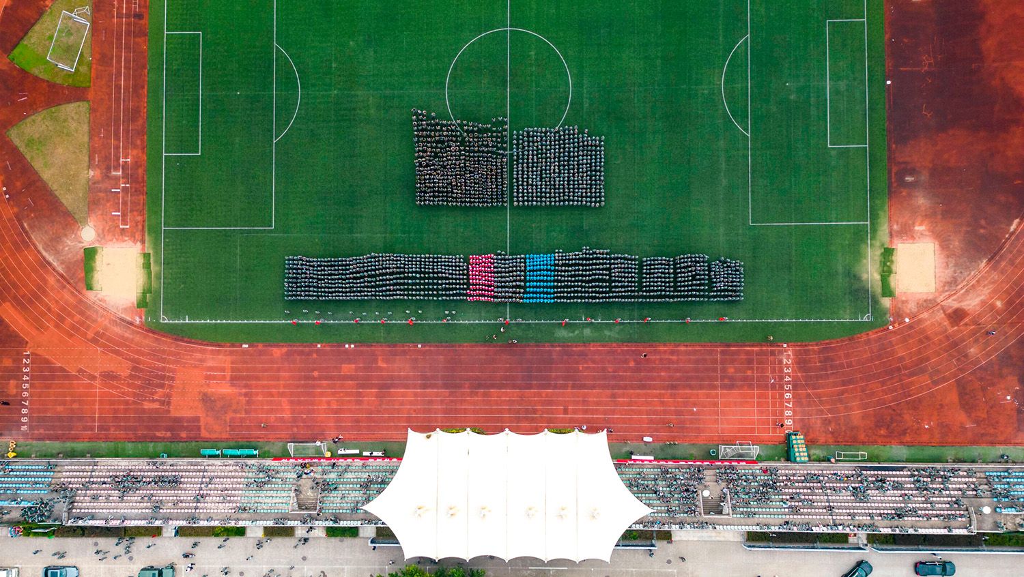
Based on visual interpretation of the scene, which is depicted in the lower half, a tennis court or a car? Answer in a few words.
car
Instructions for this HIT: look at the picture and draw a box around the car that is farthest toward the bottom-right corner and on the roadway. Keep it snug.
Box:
[912,558,952,576]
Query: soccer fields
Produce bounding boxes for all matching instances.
[144,0,890,344]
